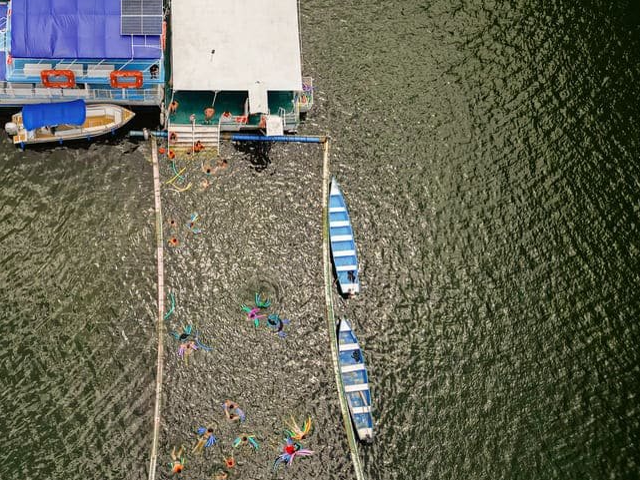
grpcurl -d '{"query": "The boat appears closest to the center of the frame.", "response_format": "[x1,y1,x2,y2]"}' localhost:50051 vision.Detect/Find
[330,176,359,299]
